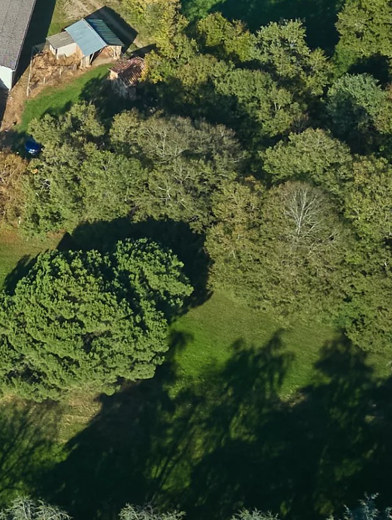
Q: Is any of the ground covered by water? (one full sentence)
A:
No, there's no water in this view.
